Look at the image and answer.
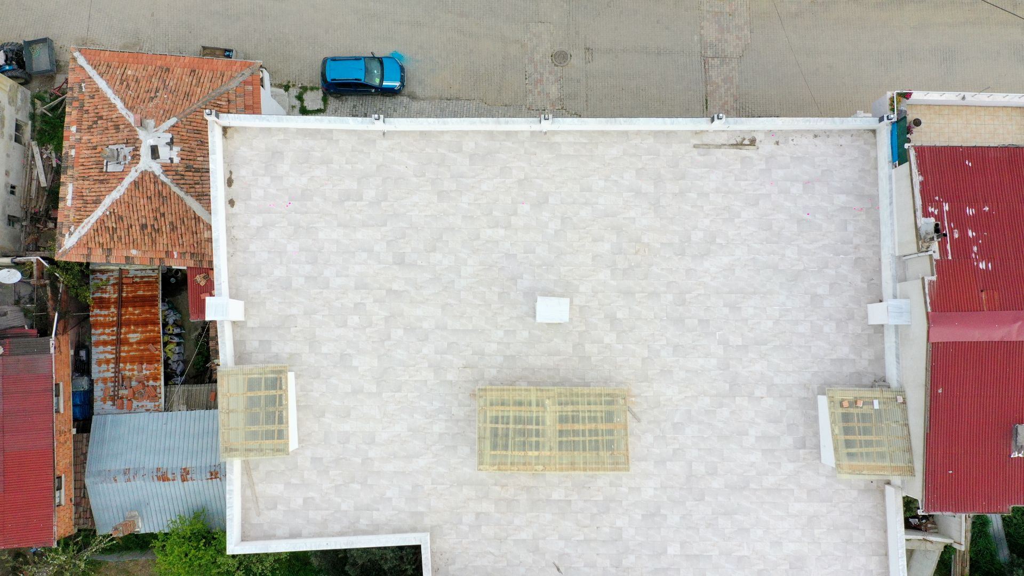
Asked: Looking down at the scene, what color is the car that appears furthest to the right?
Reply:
blue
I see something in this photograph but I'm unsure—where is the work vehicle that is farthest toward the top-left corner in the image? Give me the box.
[0,38,35,88]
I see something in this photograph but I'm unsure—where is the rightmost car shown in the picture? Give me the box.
[319,50,406,99]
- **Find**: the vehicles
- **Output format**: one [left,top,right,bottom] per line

[0,38,35,88]
[319,50,406,99]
